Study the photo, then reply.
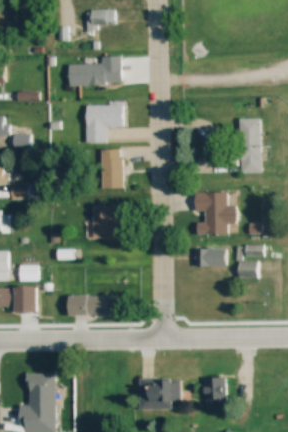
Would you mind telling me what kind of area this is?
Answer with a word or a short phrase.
residential area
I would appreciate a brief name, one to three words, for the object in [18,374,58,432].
house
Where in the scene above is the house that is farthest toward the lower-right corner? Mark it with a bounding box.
[212,378,228,400]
